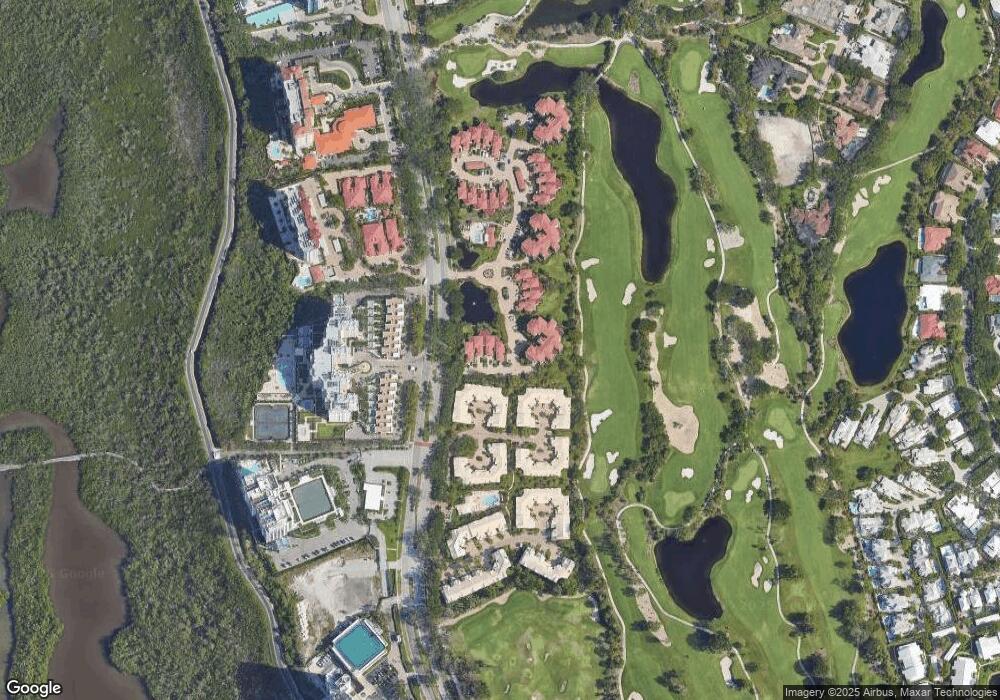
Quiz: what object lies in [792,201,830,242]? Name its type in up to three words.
house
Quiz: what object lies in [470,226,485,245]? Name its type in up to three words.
swimming pool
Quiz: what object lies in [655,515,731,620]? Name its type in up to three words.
pond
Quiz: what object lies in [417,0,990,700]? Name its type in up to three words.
golf course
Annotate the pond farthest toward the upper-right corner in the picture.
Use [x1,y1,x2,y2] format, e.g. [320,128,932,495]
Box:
[901,0,947,84]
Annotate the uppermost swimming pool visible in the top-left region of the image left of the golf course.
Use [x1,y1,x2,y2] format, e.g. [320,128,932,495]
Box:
[236,0,302,34]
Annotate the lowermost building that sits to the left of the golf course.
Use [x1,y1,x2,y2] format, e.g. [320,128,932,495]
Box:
[323,670,352,700]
